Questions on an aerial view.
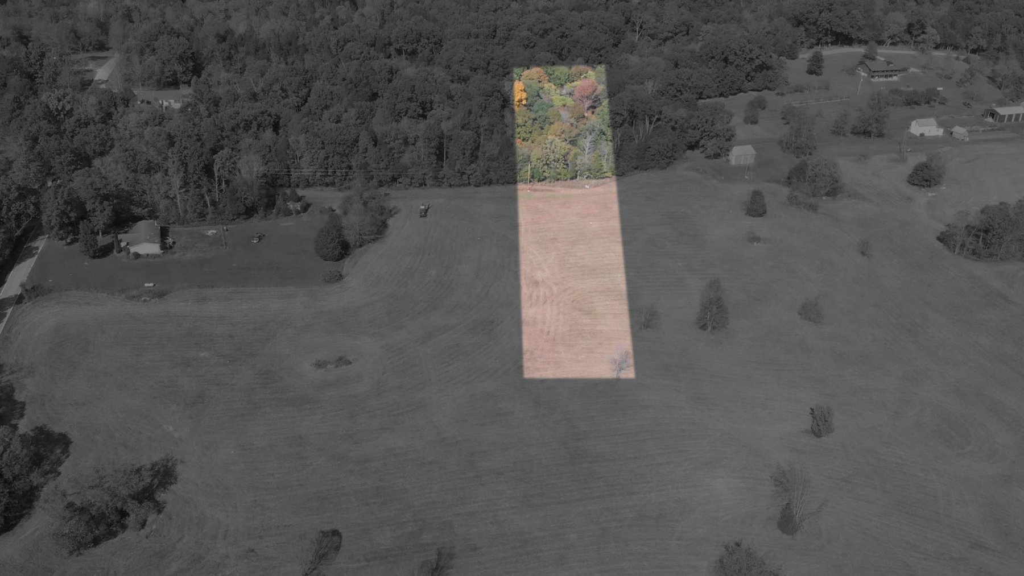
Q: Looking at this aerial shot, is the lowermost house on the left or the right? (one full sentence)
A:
It is on the left.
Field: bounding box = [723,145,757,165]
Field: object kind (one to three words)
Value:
building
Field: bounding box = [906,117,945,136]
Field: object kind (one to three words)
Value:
house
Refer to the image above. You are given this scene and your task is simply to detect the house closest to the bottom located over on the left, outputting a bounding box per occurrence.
[101,215,163,256]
